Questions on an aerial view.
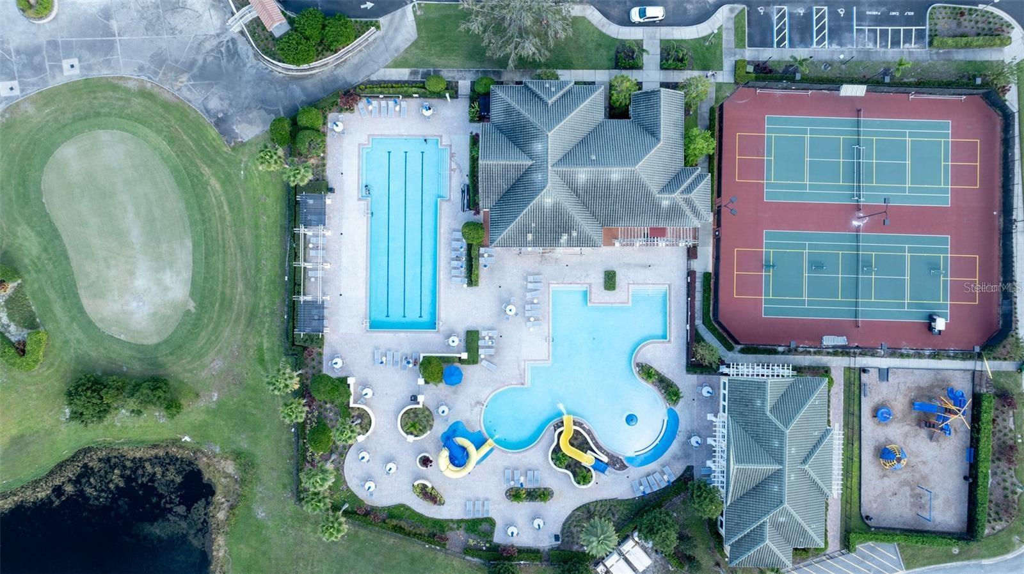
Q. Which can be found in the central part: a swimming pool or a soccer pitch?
swimming pool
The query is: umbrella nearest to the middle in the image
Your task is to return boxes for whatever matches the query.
[442,365,463,386]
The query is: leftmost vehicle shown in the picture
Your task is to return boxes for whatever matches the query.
[630,4,666,23]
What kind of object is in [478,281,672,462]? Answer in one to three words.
swimming pool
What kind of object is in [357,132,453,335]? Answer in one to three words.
swimming pool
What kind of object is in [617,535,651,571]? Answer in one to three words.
shed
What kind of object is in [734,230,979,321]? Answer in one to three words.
tennis court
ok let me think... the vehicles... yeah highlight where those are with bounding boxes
[925,314,947,336]
[630,4,666,23]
